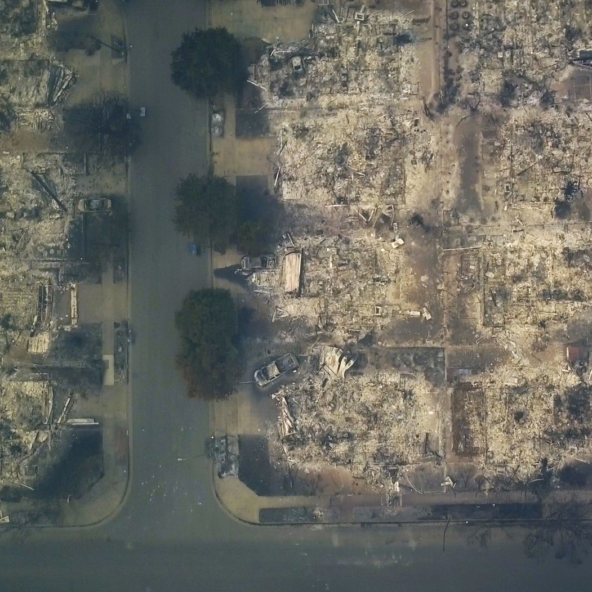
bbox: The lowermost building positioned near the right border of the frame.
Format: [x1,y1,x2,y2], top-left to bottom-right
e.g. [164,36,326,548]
[478,369,592,480]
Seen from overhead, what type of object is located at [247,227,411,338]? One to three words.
house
